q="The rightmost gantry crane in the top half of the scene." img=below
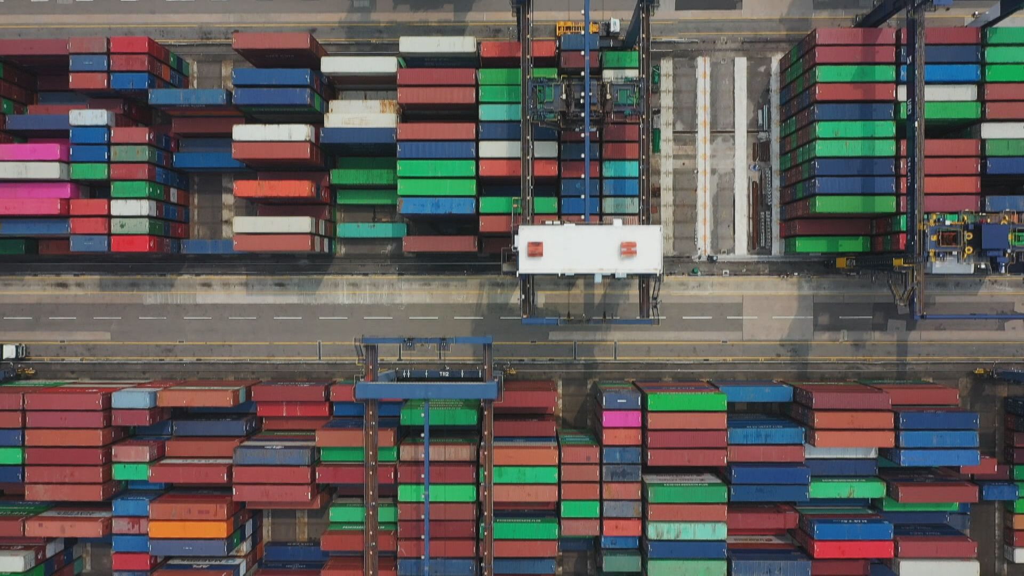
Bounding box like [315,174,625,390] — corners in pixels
[797,0,1024,320]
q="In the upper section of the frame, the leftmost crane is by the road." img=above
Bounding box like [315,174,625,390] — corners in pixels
[504,0,662,324]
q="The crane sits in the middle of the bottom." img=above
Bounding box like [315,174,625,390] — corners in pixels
[353,337,509,576]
